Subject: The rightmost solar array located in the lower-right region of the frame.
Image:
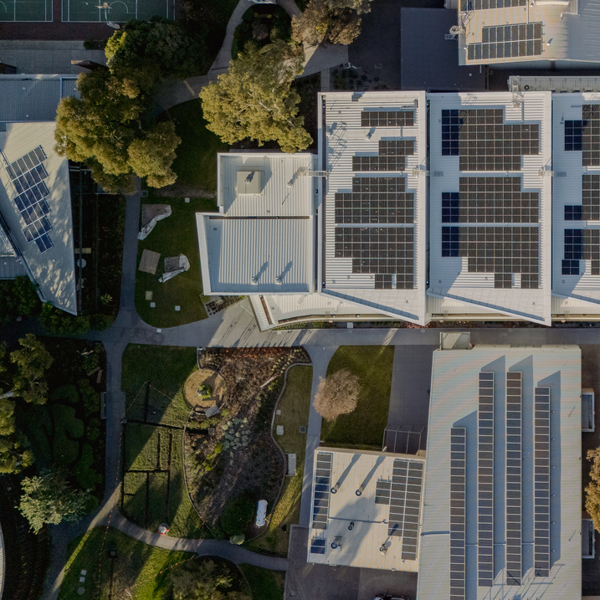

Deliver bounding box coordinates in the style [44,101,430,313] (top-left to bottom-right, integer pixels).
[535,387,549,576]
